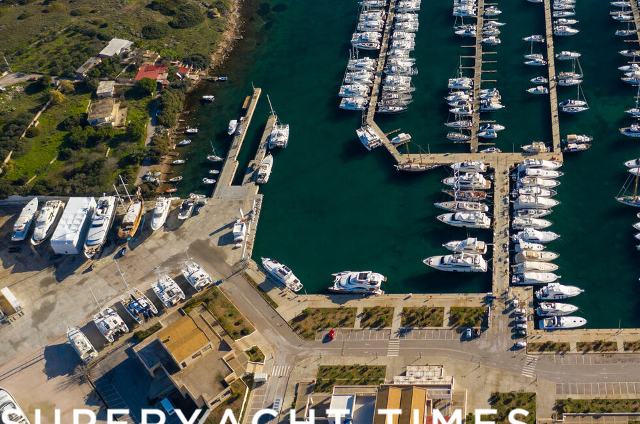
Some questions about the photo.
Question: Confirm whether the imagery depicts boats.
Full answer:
Yes, there is a boat in the image.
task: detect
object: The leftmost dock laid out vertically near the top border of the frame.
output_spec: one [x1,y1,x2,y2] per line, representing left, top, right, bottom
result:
[366,0,397,121]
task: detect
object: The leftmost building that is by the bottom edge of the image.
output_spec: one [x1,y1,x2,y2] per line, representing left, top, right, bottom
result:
[132,303,252,411]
